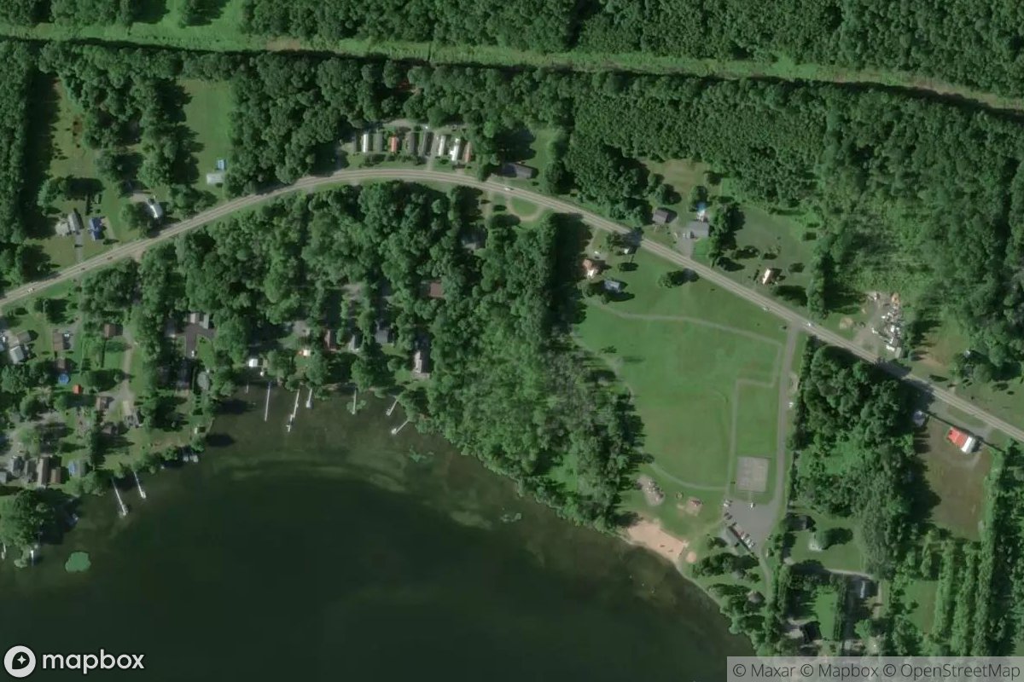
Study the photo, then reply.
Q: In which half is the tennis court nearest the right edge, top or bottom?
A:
bottom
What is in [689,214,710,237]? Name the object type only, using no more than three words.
house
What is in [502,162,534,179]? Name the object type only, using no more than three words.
house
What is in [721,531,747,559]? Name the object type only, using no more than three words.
building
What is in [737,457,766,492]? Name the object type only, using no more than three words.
tennis court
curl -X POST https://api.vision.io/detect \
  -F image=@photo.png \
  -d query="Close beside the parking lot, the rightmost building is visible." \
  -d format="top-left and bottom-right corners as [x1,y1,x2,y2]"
[785,514,808,530]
